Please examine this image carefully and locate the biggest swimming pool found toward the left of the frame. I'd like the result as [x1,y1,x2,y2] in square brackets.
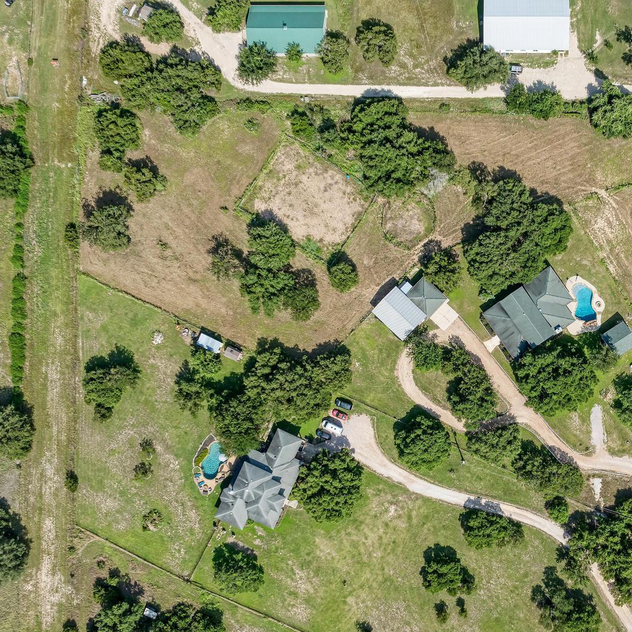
[193,439,237,496]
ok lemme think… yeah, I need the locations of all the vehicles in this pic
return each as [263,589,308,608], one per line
[322,419,343,434]
[316,429,332,441]
[508,66,523,74]
[332,410,348,421]
[335,398,353,411]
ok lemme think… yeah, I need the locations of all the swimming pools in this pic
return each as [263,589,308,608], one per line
[193,439,237,496]
[566,275,605,335]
